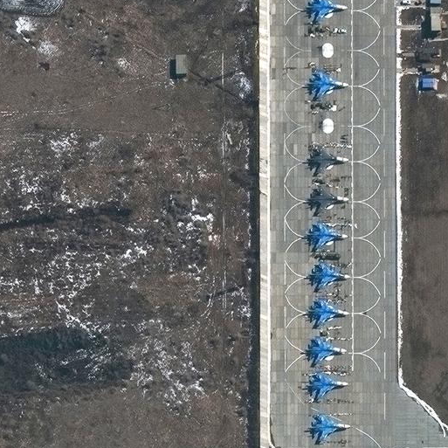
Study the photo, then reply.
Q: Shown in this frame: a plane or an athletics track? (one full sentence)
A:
Visible in the photo is a plane.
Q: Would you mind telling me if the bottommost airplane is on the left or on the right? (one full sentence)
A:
You can find the bottommost airplane on the right side of the picture.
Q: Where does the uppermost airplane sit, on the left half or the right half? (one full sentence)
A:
The uppermost airplane is on the right side of the image.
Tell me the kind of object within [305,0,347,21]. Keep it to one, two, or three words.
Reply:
airplane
